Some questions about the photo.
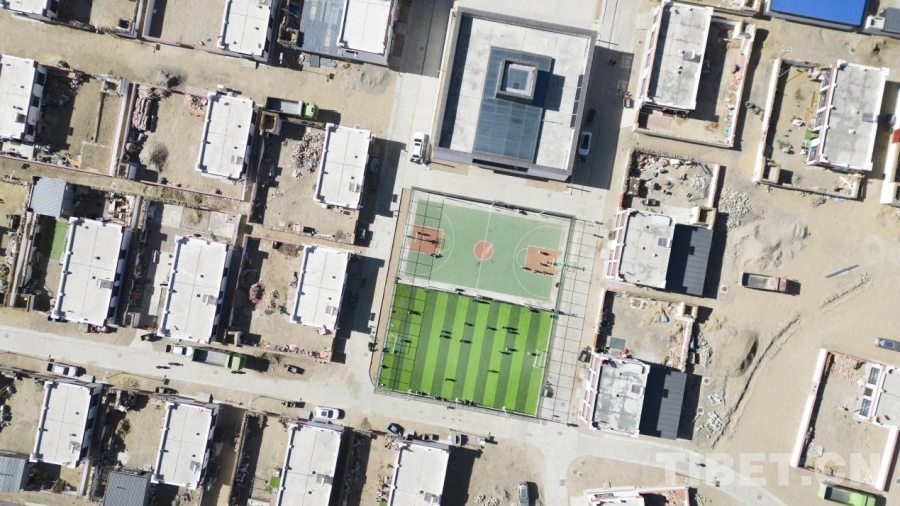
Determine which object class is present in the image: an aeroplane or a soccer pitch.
soccer pitch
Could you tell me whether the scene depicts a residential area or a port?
residential area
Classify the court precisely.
basketball court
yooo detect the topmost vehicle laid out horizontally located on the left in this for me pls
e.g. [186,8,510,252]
[263,96,317,119]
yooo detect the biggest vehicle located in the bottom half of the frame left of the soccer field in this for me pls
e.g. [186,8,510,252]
[186,349,244,372]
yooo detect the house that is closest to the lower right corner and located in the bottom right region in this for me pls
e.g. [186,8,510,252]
[857,362,900,430]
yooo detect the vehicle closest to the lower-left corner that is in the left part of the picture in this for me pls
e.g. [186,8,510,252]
[47,364,77,378]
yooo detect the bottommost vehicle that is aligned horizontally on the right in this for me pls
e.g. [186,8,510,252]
[823,484,883,506]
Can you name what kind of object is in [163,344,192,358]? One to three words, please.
vehicle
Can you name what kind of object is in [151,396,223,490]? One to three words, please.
house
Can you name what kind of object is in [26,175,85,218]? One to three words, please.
shed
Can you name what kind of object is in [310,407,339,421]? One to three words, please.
car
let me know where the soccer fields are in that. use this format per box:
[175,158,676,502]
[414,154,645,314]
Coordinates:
[378,286,554,416]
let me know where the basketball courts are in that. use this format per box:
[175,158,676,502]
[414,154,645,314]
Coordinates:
[405,200,562,300]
